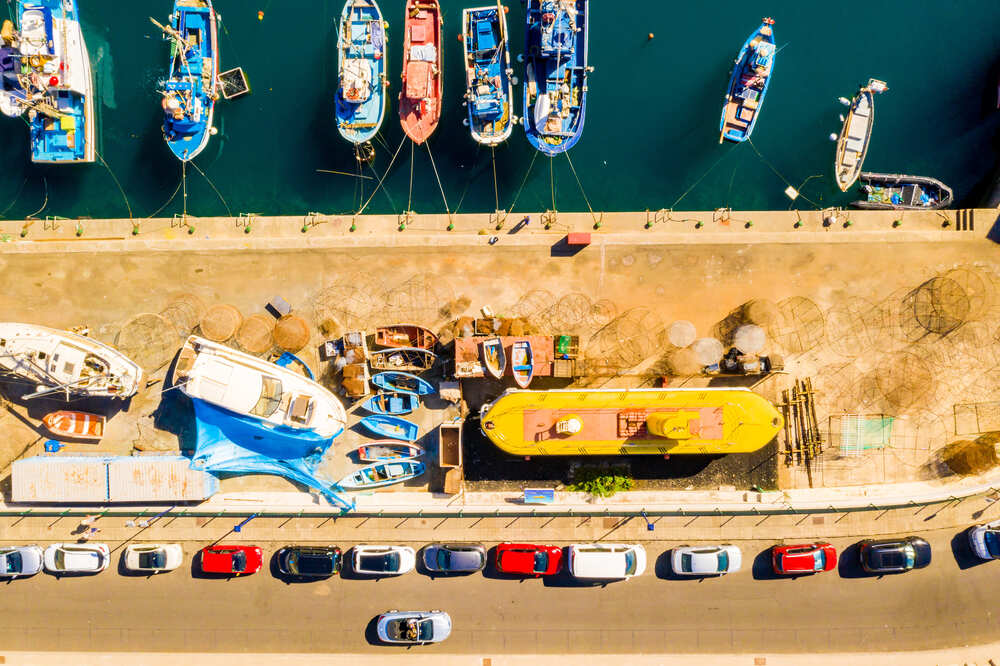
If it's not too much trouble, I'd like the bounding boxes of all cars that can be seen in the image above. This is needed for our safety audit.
[44,543,112,577]
[352,543,415,577]
[380,609,451,645]
[770,540,836,575]
[496,542,562,576]
[277,545,343,581]
[200,543,265,577]
[424,542,486,575]
[963,523,1000,561]
[569,543,647,581]
[0,545,45,579]
[858,536,931,572]
[671,544,740,578]
[124,542,185,574]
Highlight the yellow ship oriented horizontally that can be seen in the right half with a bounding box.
[478,383,783,459]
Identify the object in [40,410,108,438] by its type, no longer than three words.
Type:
boat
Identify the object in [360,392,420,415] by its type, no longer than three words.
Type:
boat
